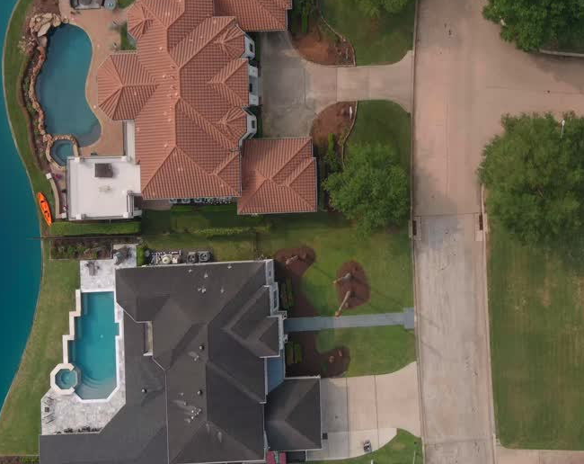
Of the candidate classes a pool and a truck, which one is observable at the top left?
pool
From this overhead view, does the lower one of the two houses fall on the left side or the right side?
left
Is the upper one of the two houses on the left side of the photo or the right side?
left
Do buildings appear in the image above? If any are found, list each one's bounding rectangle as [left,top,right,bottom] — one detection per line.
[67,0,318,218]
[39,256,323,464]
